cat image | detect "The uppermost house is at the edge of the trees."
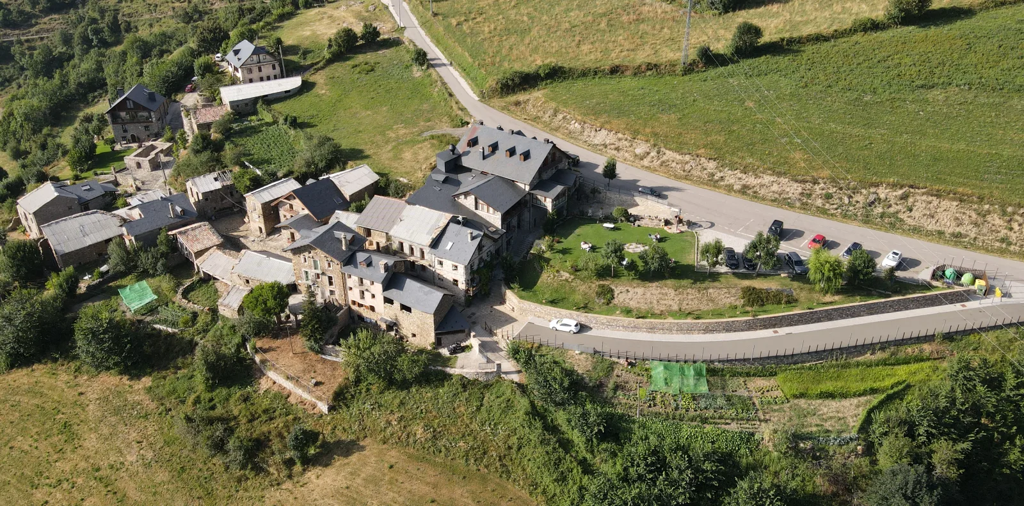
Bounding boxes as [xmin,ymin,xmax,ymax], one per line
[226,39,276,82]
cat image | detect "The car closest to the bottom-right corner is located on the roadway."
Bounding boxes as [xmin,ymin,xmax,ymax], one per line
[881,250,904,267]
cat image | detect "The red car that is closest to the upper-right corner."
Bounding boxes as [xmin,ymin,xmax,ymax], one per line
[807,231,828,248]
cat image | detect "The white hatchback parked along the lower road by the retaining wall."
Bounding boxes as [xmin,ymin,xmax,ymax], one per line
[549,318,581,335]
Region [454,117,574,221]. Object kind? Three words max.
building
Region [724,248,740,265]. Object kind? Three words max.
car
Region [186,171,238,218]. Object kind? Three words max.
barn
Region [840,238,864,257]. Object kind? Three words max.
car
